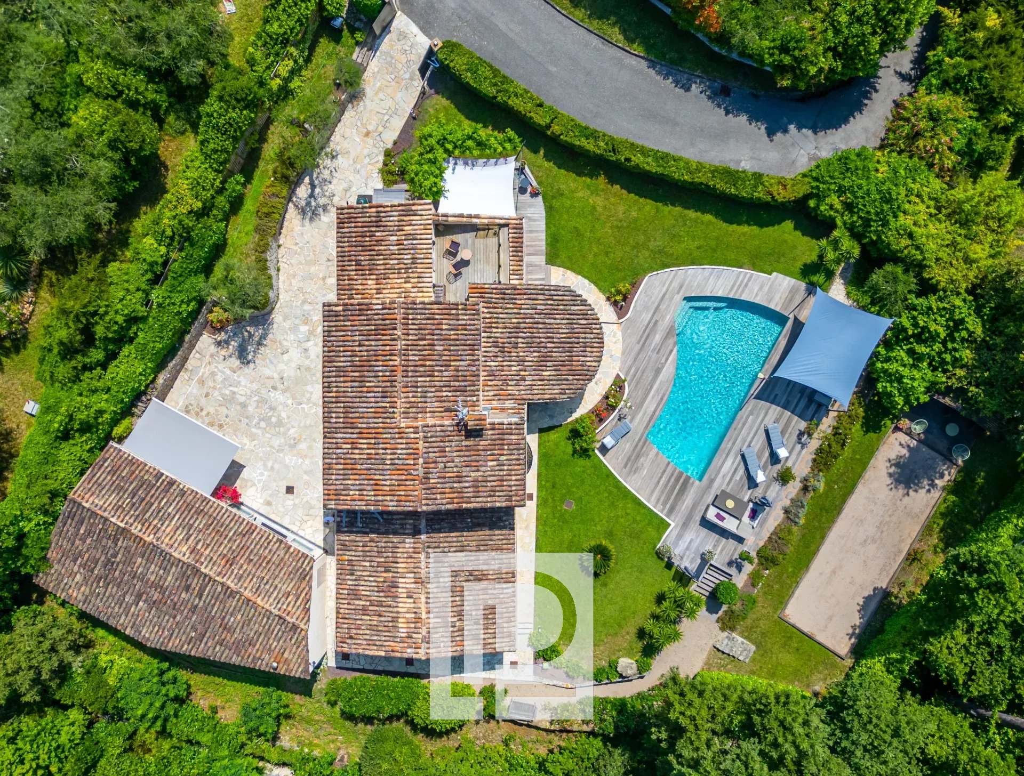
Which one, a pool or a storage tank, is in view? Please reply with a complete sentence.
There is a pool in the scene.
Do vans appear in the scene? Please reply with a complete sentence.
No, there isn't any van down there.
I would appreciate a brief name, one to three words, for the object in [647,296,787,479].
swimming pool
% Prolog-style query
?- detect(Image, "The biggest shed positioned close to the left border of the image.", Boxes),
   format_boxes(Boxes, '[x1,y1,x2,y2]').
[35,442,334,680]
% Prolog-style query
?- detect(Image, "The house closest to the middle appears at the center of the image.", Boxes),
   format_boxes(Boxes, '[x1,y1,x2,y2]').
[321,200,605,662]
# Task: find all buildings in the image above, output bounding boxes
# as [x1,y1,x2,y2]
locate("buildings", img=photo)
[35,442,334,680]
[321,200,605,662]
